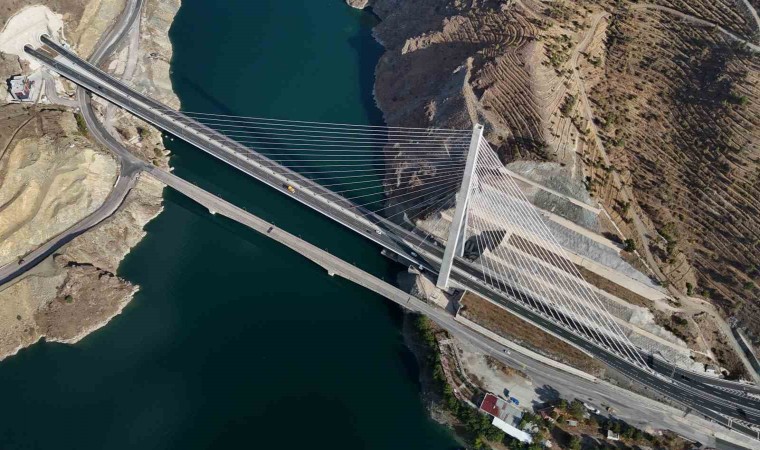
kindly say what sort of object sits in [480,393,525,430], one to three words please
building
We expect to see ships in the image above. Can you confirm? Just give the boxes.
[379,247,401,264]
